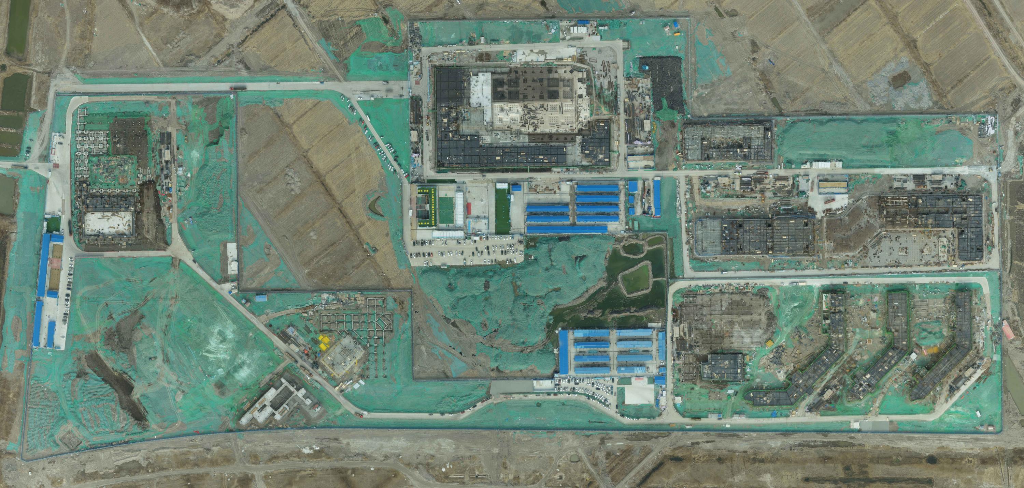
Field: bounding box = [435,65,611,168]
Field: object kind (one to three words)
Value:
building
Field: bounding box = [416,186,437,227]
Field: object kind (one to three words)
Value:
building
